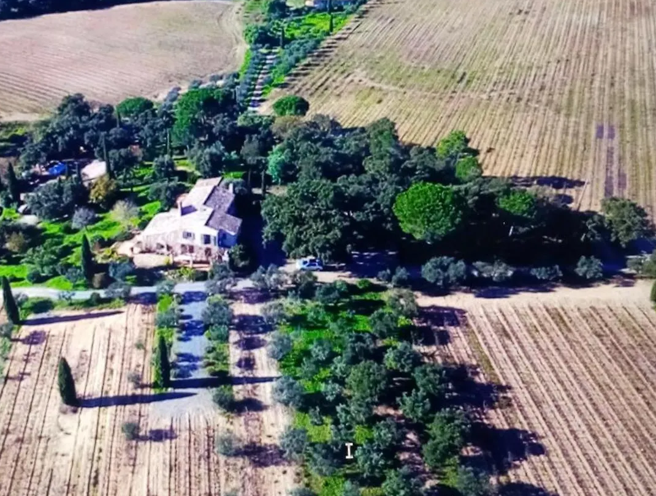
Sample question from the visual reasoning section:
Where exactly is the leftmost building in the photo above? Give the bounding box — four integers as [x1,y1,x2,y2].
[78,161,108,185]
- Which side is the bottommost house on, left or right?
left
